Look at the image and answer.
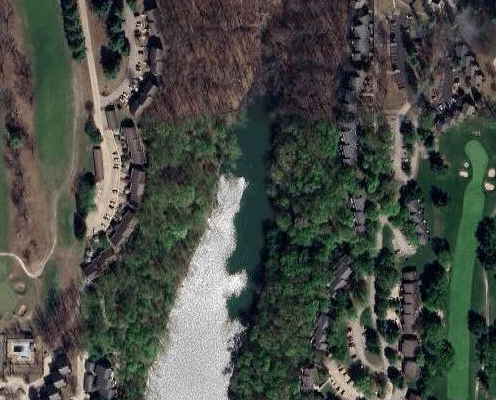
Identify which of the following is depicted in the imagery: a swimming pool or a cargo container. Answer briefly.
swimming pool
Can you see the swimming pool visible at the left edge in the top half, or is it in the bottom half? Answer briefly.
bottom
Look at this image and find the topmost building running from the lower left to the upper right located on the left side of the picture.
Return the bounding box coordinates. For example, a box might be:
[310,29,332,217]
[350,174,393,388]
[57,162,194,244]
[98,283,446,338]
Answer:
[128,82,160,121]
